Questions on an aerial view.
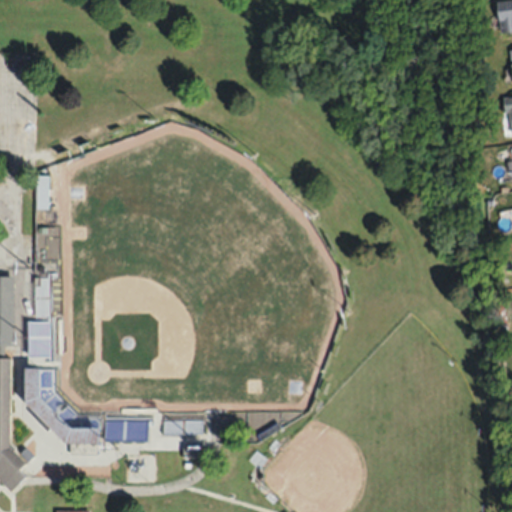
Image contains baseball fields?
Yes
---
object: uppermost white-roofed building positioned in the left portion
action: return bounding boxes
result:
[37,176,52,211]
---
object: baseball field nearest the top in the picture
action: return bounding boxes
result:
[52,122,346,412]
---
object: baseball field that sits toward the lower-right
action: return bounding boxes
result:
[264,316,484,512]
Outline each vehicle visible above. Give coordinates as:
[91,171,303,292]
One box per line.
[26,300,33,314]
[26,124,34,132]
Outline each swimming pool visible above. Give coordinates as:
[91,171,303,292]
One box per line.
[498,218,512,232]
[493,166,506,179]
